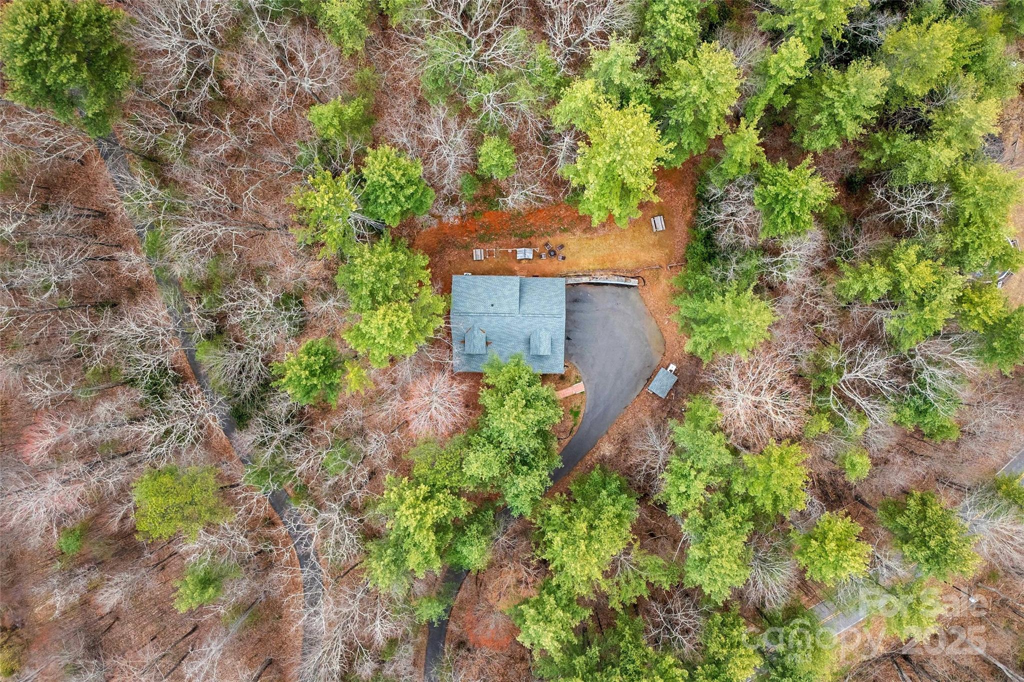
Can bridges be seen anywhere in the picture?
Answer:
No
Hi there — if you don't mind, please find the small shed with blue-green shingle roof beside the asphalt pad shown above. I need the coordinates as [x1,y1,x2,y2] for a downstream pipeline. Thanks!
[647,367,677,399]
